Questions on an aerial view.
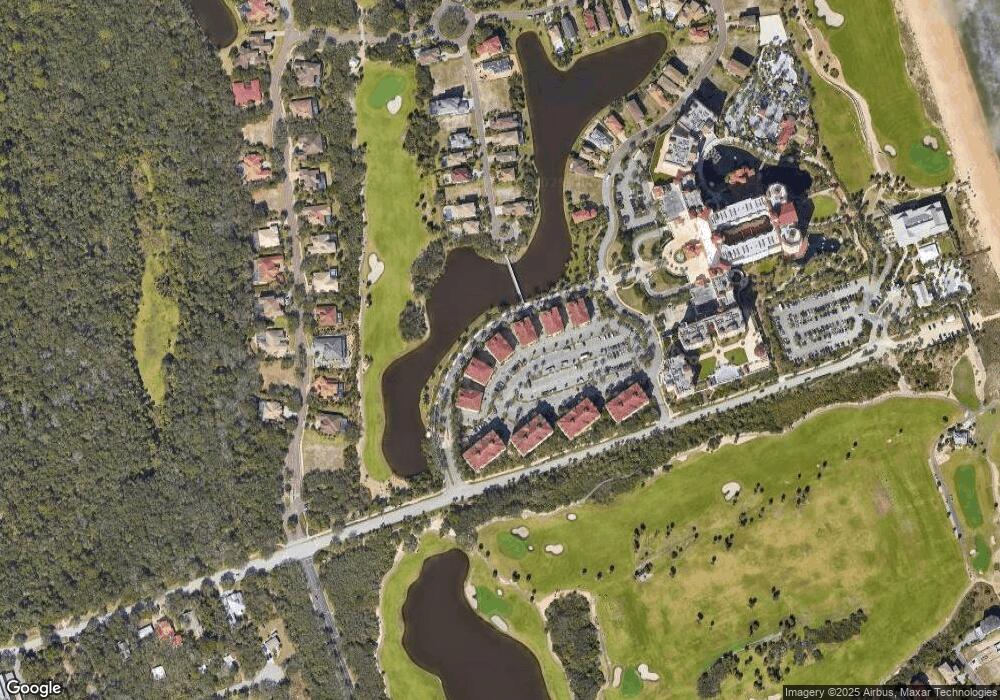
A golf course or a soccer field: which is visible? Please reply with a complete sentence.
The one in the frame is a golf course.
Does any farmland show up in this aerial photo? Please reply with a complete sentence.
No, there is no farmland in the image.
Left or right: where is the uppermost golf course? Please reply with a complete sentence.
The uppermost golf course sits on the right side.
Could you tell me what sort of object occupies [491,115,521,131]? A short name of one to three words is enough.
house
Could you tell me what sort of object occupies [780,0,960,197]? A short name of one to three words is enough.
golf course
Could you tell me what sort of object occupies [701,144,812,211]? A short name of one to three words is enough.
pond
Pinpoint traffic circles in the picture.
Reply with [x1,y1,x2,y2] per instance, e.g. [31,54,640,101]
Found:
[432,2,476,44]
